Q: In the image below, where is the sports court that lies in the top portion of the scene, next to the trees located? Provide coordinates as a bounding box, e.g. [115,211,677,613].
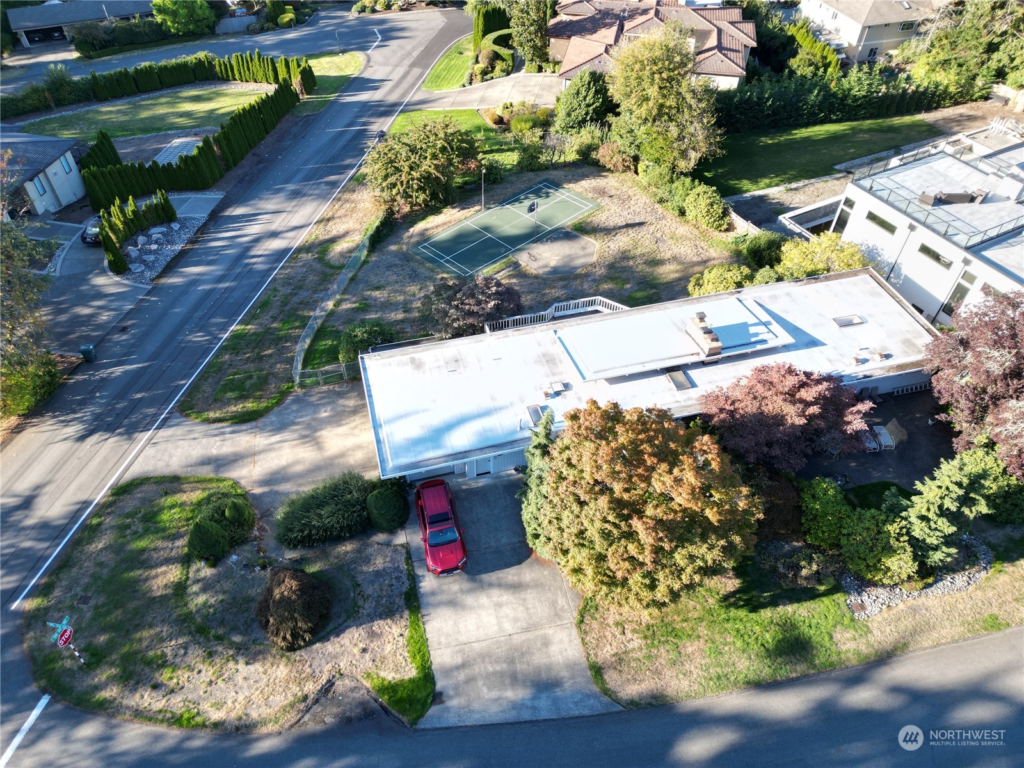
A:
[399,173,611,279]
